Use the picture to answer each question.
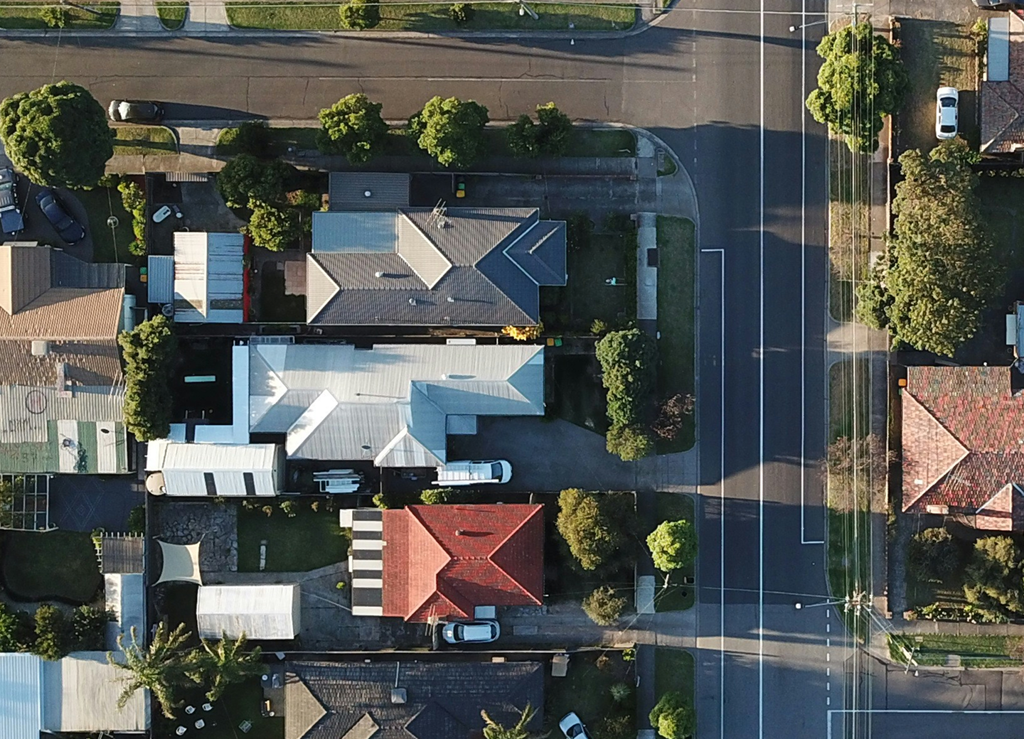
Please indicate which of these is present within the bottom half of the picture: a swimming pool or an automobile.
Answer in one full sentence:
You can see an automobile within the bottom half of the picture.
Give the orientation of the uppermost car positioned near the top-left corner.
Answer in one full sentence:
The uppermost car positioned near the top-left corner is oriented from left to right.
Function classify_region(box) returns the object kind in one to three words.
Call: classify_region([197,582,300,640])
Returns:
shed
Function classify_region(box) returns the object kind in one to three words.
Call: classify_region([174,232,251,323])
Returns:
building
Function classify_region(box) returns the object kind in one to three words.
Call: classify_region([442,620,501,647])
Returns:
car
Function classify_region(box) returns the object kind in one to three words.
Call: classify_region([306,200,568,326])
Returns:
house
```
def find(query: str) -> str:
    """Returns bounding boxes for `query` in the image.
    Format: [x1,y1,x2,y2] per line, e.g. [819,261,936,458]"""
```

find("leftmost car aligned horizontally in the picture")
[107,97,167,124]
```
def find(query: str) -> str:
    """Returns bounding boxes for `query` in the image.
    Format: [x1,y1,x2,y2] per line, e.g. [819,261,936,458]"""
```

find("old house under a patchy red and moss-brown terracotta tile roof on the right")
[901,361,1024,531]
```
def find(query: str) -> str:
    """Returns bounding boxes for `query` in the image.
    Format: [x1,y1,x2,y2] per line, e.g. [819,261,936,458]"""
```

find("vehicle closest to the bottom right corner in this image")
[553,708,590,739]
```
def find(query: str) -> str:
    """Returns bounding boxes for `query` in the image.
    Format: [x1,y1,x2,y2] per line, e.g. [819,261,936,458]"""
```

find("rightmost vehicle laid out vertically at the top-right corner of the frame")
[934,83,960,140]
